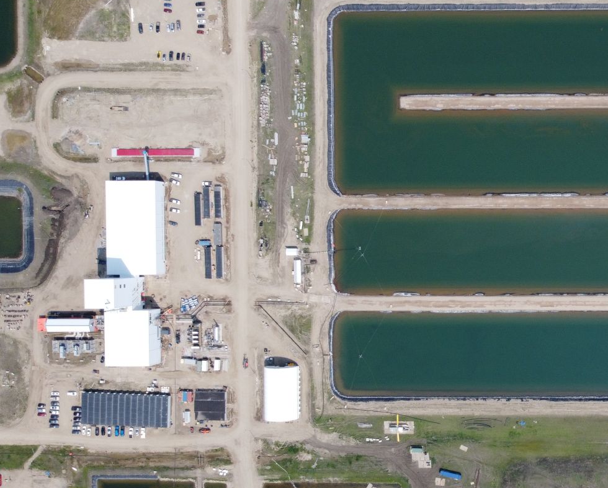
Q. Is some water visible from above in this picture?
Yes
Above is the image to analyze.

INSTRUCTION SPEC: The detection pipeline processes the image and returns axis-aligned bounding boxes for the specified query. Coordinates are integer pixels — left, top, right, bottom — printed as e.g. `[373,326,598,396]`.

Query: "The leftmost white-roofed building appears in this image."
[44,318,99,332]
